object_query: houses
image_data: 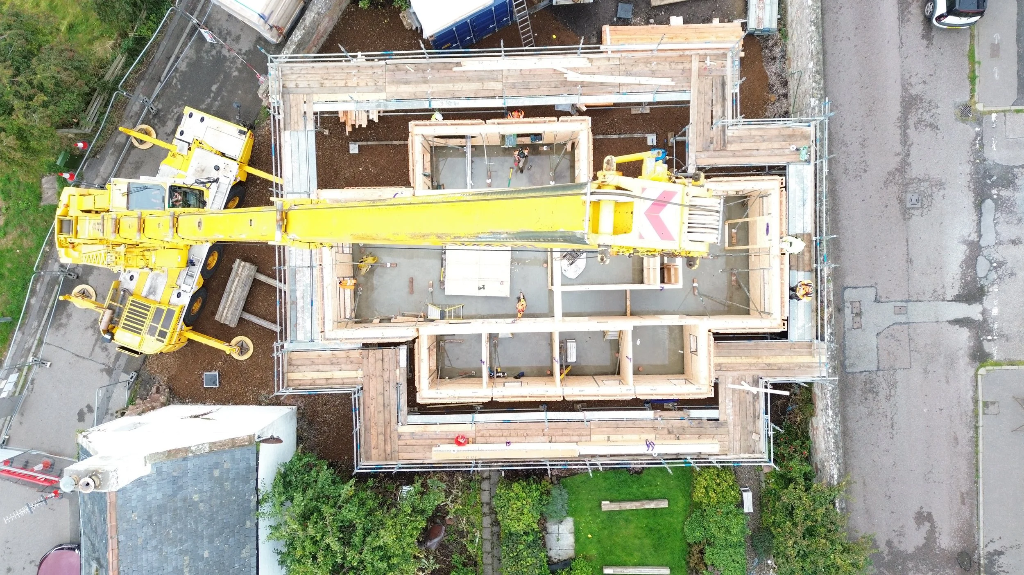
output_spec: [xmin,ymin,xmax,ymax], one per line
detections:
[51,404,300,575]
[319,117,784,401]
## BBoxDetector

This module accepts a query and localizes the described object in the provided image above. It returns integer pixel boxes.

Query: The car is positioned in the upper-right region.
[925,0,987,28]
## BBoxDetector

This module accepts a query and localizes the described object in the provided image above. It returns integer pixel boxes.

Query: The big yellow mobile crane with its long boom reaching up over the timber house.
[55,102,727,358]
